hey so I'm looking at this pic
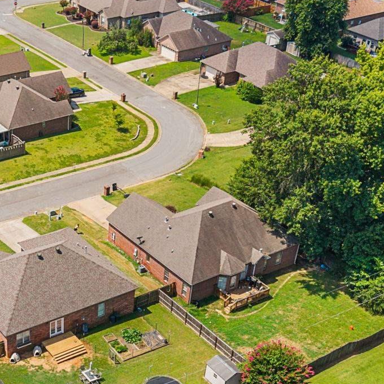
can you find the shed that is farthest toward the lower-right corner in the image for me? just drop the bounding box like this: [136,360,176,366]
[203,351,246,384]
